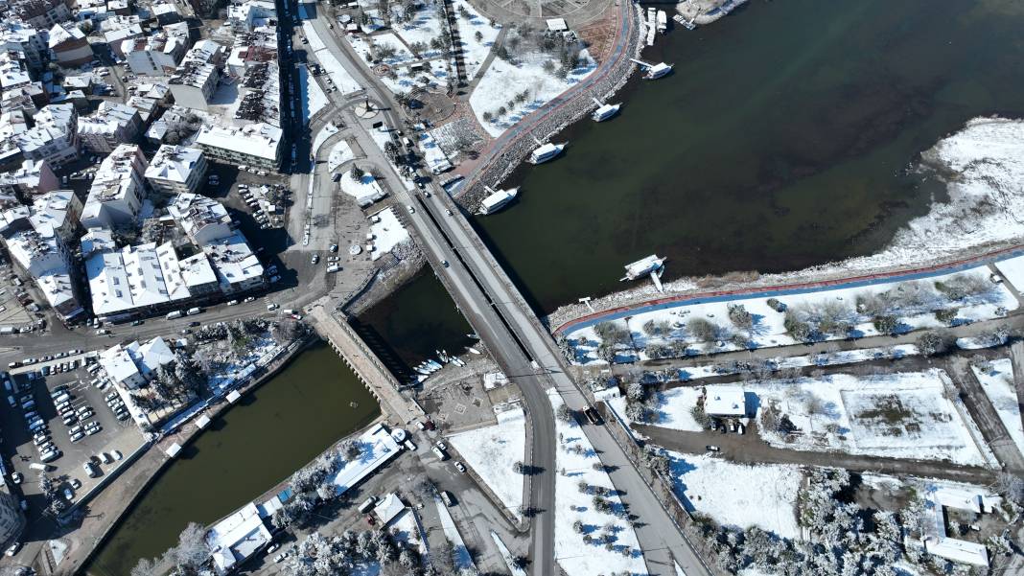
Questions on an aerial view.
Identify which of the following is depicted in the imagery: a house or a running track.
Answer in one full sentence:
Looking from above, you can make out a house.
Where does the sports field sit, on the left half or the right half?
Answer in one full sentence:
It is on the right.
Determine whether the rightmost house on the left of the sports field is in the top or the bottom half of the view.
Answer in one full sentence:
You can find the rightmost house on the left of the sports field in the bottom half.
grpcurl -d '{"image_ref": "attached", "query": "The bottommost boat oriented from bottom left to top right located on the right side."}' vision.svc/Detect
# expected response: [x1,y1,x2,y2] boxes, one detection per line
[620,248,668,280]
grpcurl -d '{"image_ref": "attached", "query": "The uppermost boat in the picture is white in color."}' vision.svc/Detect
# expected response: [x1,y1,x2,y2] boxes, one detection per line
[657,8,669,32]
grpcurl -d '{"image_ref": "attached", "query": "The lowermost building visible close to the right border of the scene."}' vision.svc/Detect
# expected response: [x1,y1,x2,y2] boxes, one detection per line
[921,538,989,571]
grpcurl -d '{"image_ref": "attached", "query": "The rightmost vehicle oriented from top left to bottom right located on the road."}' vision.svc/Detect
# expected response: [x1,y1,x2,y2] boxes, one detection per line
[583,402,600,422]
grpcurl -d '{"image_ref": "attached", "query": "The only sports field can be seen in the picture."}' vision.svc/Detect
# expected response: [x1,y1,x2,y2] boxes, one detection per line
[842,386,969,448]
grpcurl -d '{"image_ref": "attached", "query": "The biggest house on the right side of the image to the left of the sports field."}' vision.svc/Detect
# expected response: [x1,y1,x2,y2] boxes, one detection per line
[704,384,746,417]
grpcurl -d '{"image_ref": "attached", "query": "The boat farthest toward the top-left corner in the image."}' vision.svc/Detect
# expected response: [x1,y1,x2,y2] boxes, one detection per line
[475,184,520,214]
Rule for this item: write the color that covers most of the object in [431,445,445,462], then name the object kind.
white vehicle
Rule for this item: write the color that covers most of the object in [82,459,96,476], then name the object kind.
white vehicle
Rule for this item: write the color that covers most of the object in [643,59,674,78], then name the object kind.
white boat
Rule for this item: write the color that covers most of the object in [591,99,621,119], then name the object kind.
white boat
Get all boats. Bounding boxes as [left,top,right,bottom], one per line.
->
[465,347,479,353]
[423,361,437,372]
[643,59,674,78]
[437,350,445,363]
[442,349,449,362]
[411,375,427,385]
[528,139,567,163]
[450,357,462,366]
[620,248,668,280]
[418,363,432,373]
[591,99,621,119]
[413,367,429,376]
[428,359,443,370]
[657,8,669,32]
[475,184,520,214]
[453,355,467,365]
